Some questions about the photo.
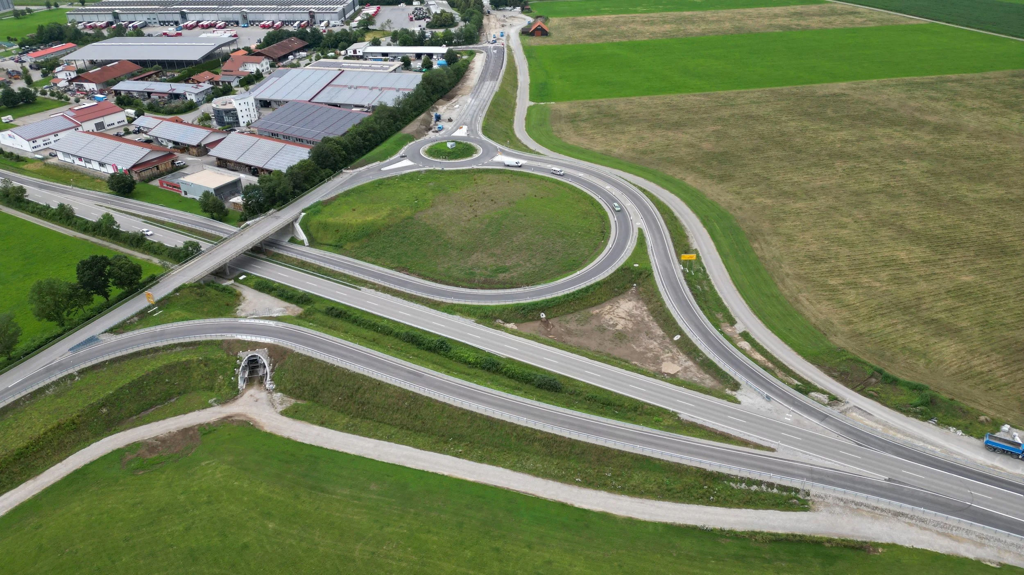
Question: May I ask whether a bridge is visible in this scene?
Yes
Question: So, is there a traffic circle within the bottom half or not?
No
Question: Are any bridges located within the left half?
Yes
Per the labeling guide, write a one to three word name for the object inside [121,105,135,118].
vehicle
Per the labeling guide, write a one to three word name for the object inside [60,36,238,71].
building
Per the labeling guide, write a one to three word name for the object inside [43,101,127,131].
building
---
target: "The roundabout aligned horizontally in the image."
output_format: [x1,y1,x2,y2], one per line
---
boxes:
[405,136,496,167]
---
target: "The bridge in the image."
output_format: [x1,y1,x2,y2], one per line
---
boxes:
[158,201,309,286]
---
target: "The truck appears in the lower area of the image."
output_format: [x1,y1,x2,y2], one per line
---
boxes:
[989,434,1024,460]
